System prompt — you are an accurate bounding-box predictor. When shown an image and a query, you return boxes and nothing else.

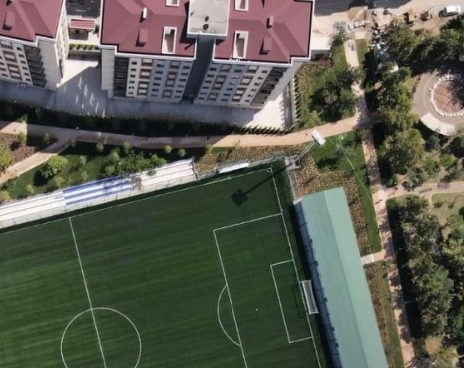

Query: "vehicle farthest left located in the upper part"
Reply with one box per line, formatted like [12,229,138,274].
[395,1,421,20]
